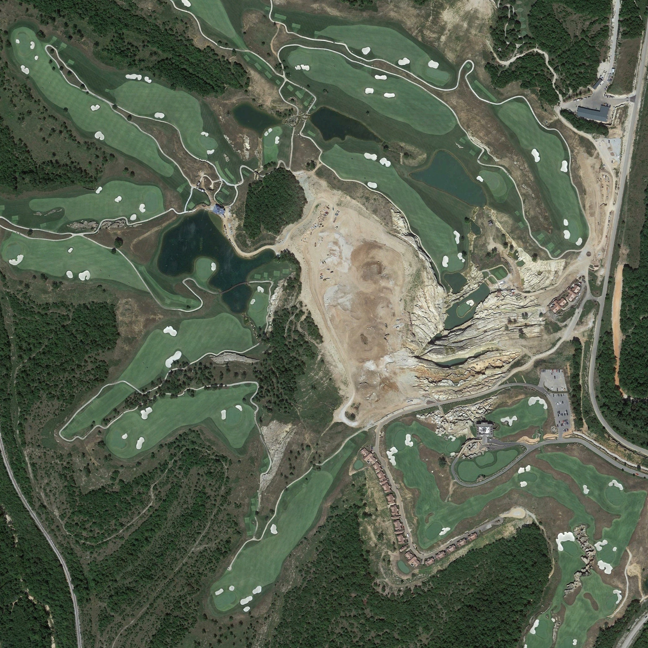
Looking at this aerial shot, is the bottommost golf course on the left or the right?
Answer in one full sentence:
You can find the bottommost golf course on the right side of the picture.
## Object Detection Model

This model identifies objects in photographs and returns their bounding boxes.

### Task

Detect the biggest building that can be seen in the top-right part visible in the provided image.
[577,101,610,121]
